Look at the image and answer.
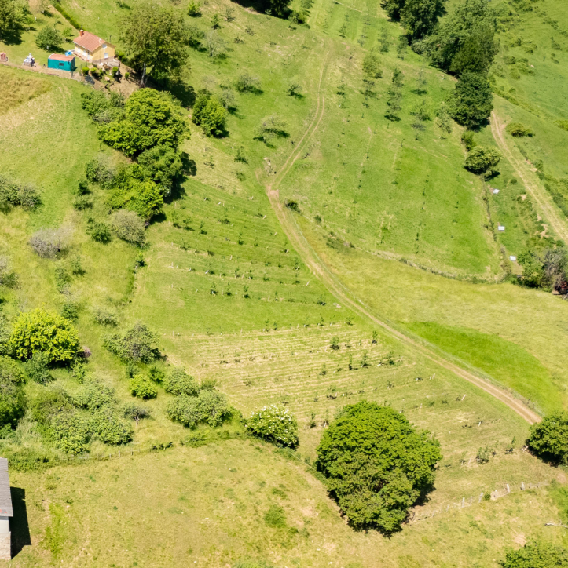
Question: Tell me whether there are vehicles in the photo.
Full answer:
No, I find no vehicle anywhere in the image.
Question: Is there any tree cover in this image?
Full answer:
Yes, there's tree cover in this view.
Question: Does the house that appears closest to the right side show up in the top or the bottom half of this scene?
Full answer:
The house that appears closest to the right side is in the top half of the image.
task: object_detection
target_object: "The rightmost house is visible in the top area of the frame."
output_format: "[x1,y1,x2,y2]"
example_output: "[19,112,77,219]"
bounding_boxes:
[76,29,119,62]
